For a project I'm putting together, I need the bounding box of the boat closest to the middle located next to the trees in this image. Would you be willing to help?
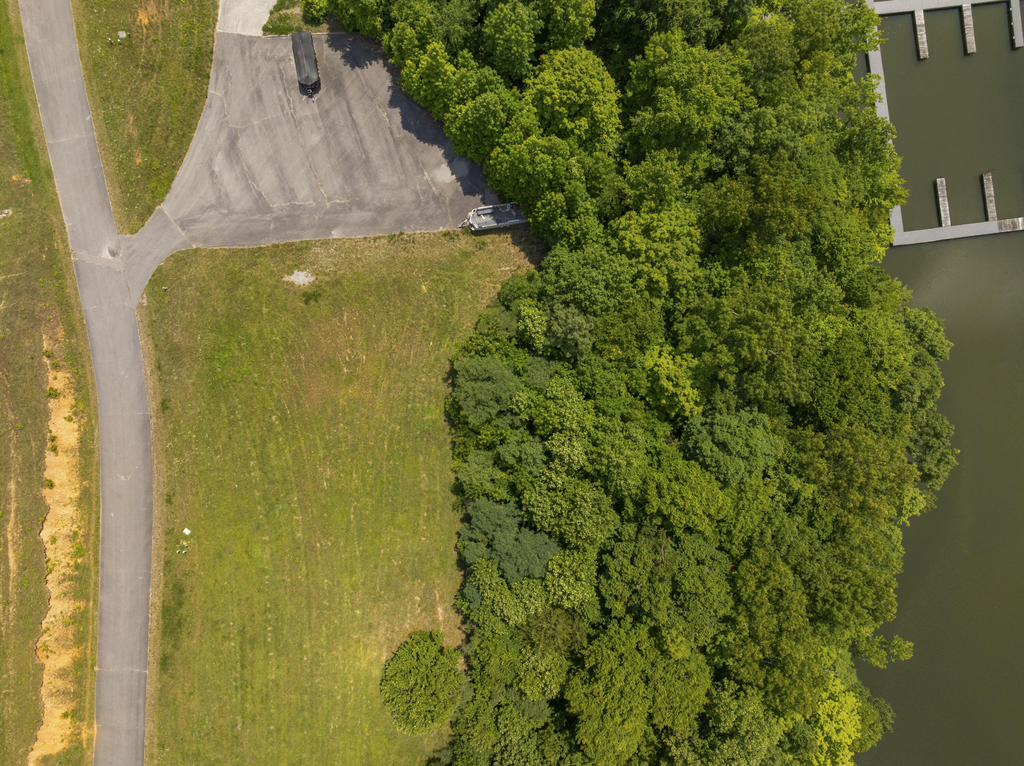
[469,200,527,231]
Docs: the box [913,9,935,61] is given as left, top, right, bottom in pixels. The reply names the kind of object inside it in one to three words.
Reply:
pier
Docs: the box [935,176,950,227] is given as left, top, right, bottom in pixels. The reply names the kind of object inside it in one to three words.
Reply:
pier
